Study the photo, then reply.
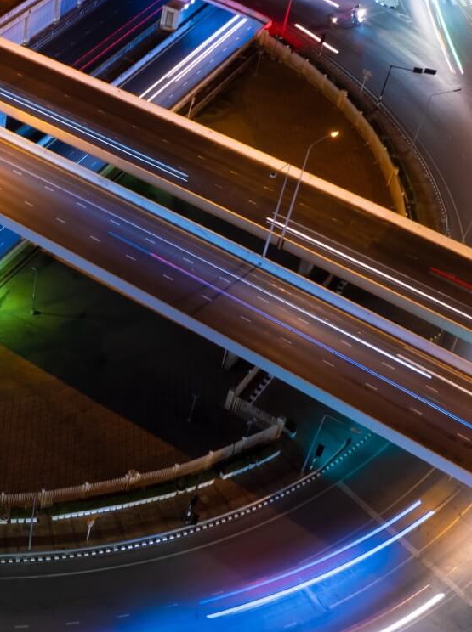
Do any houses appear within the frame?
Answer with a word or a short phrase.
No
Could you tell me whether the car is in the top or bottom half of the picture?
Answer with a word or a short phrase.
top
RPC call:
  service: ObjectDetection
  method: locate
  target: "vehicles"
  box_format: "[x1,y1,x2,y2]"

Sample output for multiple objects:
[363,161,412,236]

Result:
[327,1,367,21]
